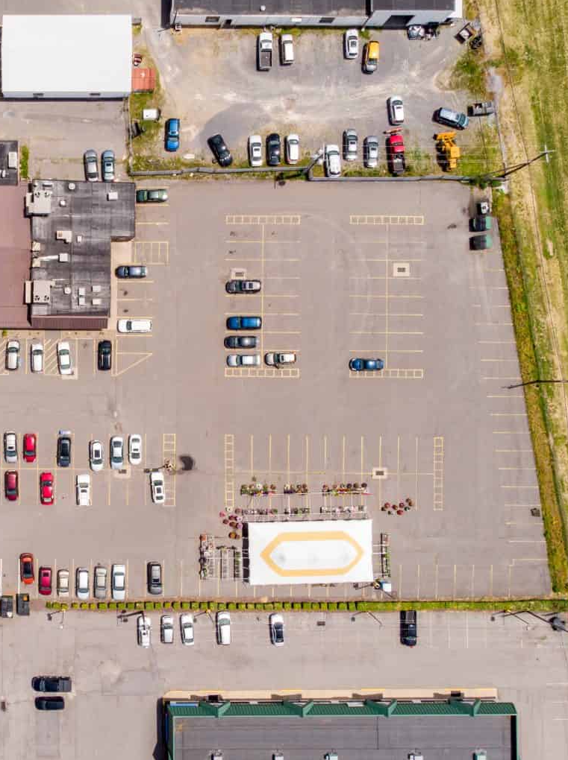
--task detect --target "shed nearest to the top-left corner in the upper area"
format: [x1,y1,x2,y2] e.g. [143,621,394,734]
[2,15,132,98]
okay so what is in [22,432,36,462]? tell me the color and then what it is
red vehicle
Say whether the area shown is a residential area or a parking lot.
parking lot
